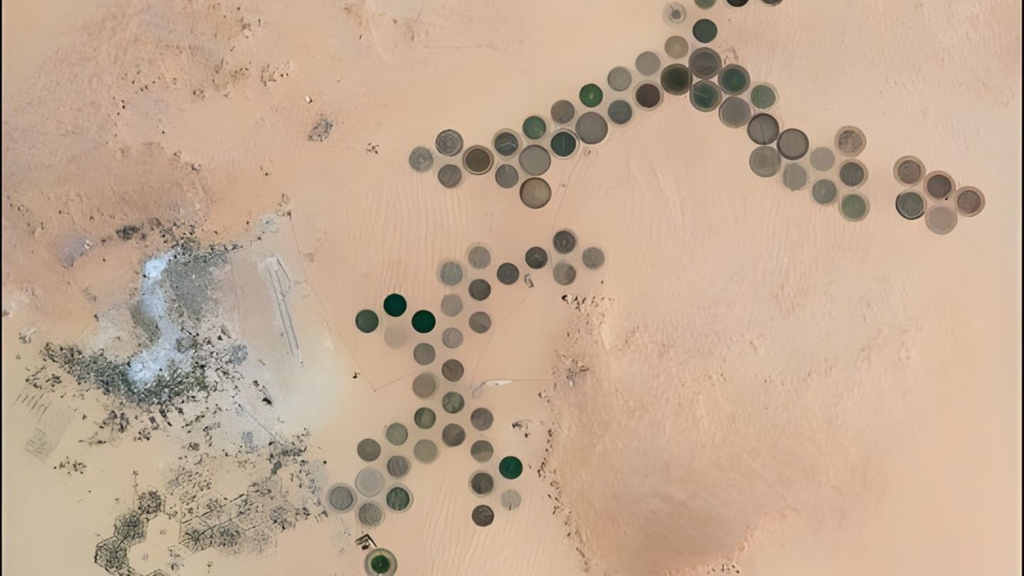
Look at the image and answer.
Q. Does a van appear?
No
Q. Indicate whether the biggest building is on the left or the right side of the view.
left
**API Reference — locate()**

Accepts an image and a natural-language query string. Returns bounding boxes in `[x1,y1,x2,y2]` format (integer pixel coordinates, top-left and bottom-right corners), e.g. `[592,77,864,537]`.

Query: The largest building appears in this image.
[165,249,231,324]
